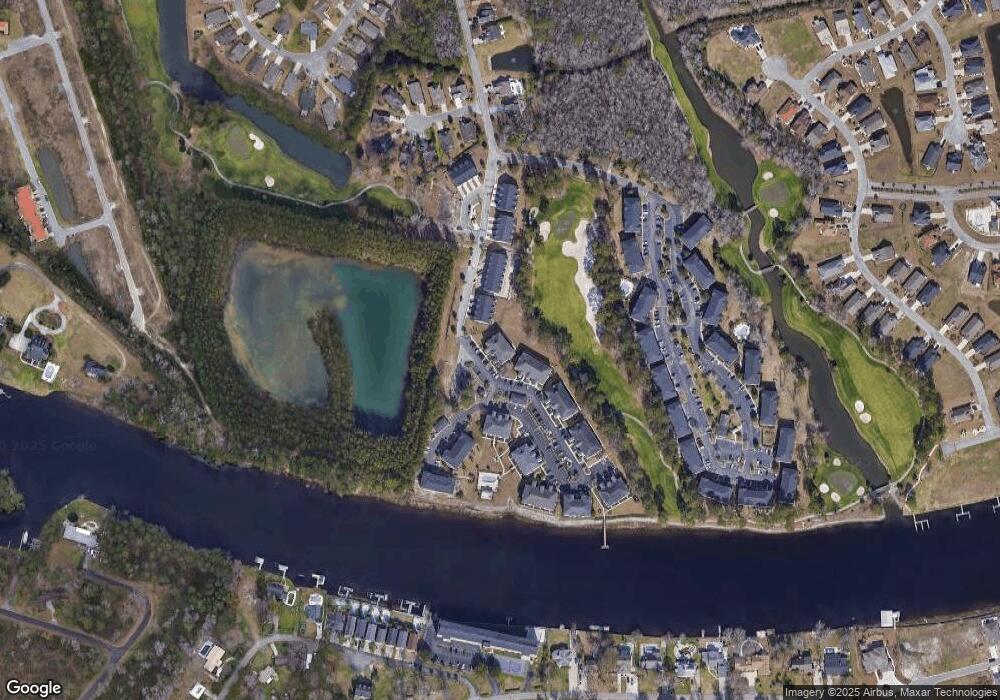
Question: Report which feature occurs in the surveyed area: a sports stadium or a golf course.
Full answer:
Looking from above, you can make out a golf course.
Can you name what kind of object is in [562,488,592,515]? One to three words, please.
building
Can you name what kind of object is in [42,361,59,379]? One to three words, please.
swimming pool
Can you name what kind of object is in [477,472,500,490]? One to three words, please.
swimming pool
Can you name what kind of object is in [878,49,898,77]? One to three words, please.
house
